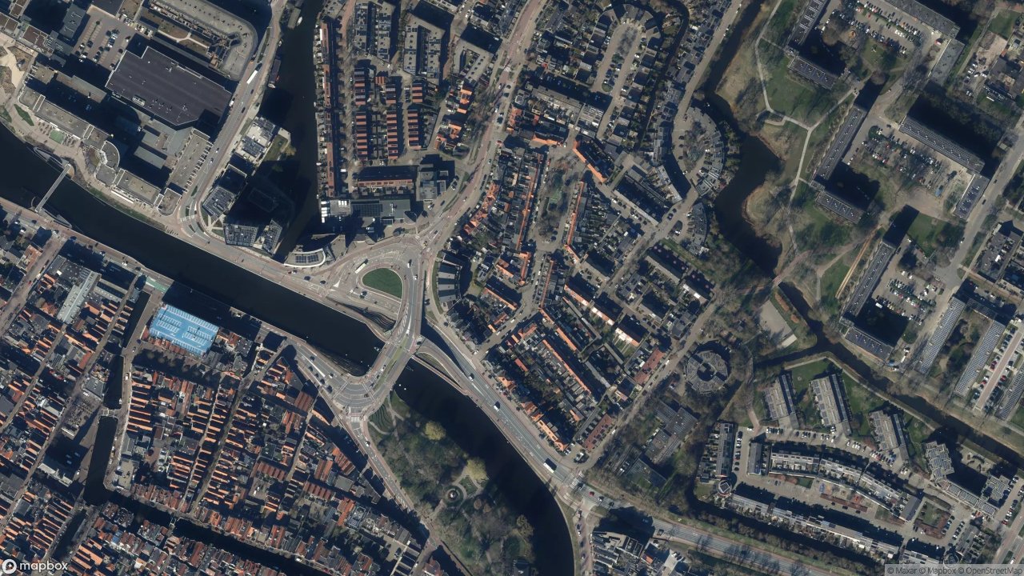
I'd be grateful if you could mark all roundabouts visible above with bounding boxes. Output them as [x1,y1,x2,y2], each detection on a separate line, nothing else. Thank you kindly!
[357,264,407,301]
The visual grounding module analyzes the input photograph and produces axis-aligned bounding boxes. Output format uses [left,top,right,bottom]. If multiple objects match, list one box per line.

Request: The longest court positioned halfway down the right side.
[759,300,797,346]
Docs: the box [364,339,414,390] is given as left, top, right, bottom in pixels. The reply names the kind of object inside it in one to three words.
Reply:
bridge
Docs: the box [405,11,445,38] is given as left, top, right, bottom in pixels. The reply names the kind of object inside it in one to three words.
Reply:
building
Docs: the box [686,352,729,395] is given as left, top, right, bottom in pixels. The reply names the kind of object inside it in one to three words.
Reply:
house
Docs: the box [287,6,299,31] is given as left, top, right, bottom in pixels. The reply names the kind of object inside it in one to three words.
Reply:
boat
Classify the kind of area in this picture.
residential area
